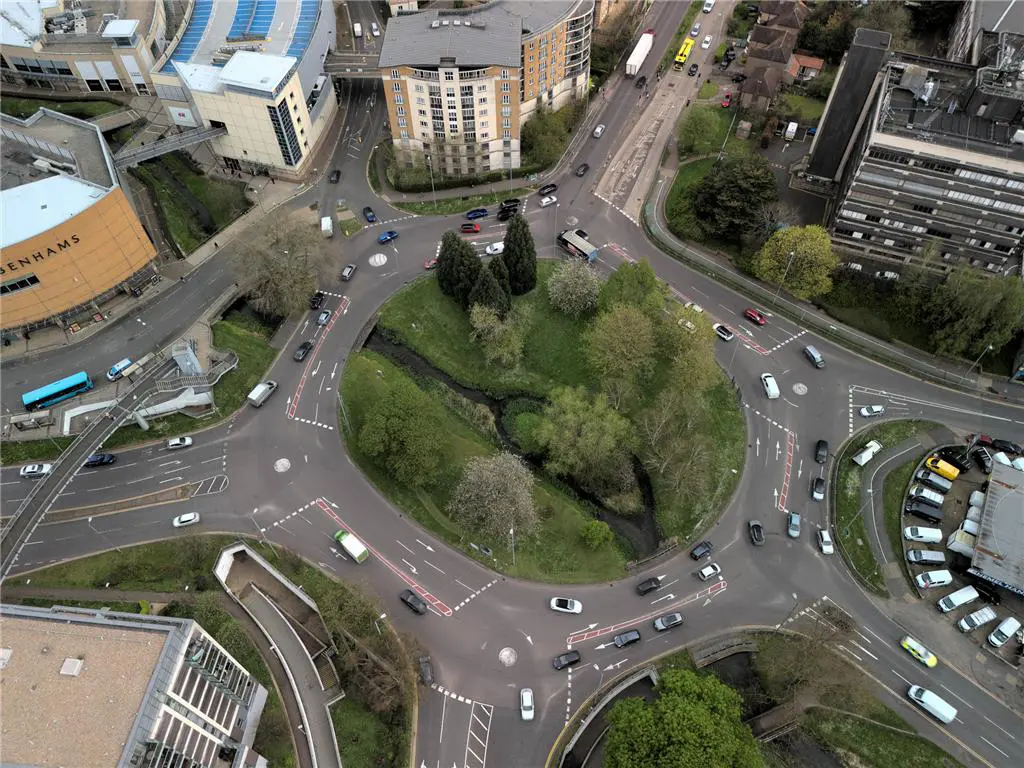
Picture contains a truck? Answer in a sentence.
Yes, there is a truck in the image.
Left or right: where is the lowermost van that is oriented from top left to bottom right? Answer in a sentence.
You can find the lowermost van that is oriented from top left to bottom right on the right side of the picture.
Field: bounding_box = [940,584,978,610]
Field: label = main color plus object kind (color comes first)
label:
white vehicle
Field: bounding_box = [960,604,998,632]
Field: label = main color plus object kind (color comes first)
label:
white van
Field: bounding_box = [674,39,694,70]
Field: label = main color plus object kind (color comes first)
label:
yellow bus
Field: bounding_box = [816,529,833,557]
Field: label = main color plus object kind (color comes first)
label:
white car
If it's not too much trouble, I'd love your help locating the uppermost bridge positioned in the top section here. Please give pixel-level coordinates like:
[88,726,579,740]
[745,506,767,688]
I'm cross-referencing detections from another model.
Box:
[325,51,383,79]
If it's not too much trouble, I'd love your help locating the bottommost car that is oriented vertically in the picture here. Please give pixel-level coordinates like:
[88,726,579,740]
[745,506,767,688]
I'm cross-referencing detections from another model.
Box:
[519,687,535,722]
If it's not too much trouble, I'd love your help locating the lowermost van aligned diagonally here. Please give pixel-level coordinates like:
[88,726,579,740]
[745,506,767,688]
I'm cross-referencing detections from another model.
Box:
[910,684,959,724]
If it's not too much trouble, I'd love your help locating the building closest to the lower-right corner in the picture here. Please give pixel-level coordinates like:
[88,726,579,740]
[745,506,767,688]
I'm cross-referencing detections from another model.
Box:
[956,466,1024,609]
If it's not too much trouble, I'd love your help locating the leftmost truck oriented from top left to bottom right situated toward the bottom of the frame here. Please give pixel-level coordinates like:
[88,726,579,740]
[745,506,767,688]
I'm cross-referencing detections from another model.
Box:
[328,525,376,568]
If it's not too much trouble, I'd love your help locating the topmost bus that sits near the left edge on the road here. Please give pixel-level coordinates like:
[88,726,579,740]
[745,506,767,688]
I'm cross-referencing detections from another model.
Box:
[19,369,97,412]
